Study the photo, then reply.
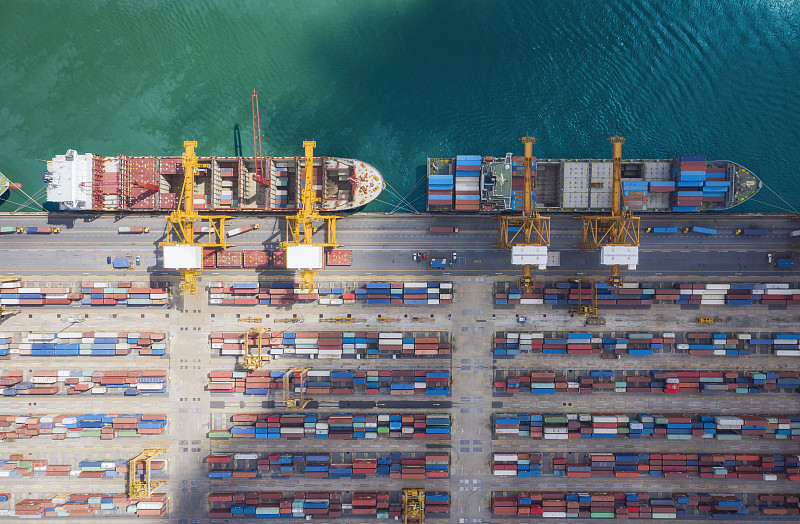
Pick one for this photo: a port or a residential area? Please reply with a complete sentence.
It's a port.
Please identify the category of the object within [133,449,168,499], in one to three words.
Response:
container crane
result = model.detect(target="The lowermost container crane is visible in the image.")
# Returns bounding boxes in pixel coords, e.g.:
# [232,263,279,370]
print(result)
[400,487,426,524]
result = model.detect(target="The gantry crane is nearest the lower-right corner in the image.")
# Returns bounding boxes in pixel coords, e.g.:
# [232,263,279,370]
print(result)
[566,277,600,319]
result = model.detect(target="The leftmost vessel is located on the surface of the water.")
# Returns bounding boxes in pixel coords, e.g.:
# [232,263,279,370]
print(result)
[0,173,22,196]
